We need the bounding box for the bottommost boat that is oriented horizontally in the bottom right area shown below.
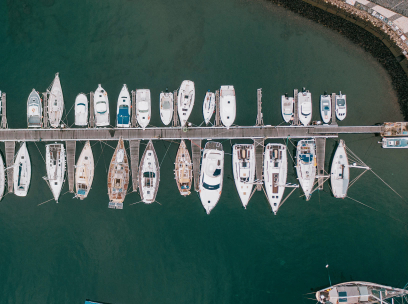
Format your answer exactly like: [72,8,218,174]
[300,268,408,304]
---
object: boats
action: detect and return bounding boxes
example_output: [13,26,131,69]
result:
[198,140,225,216]
[331,137,405,206]
[278,92,292,125]
[220,84,237,131]
[46,70,64,127]
[178,79,196,127]
[136,88,152,133]
[94,79,110,127]
[136,137,171,204]
[300,268,408,304]
[27,87,43,127]
[174,137,193,195]
[379,137,408,148]
[106,131,130,207]
[75,139,94,201]
[287,137,335,201]
[298,89,313,127]
[11,141,31,196]
[75,92,88,126]
[42,143,67,204]
[261,143,302,215]
[335,92,347,122]
[118,79,132,127]
[319,91,331,124]
[203,91,216,126]
[160,88,174,126]
[234,144,266,209]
